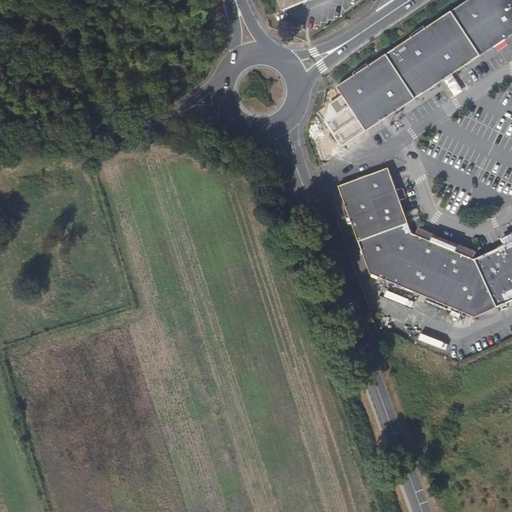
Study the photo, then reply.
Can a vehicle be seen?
Yes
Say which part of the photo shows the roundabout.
top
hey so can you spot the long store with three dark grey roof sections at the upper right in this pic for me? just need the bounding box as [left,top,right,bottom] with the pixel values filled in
[338,0,512,128]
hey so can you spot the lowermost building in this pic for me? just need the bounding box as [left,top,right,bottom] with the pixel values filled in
[338,168,512,318]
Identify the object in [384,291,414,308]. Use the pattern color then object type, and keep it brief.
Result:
white vehicle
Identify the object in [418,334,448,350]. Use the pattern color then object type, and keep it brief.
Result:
white vehicle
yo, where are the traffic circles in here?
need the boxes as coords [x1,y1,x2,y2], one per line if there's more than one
[212,41,310,140]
